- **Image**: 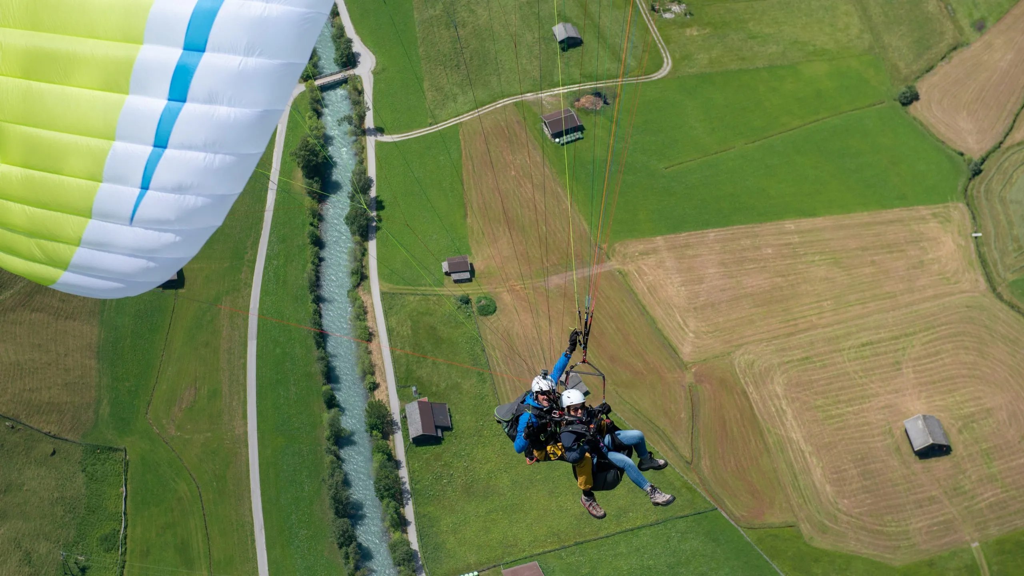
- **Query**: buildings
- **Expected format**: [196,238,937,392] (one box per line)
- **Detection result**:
[502,561,540,576]
[154,273,178,291]
[542,108,584,139]
[904,412,949,456]
[564,374,590,397]
[405,396,452,444]
[552,20,582,46]
[442,255,470,284]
